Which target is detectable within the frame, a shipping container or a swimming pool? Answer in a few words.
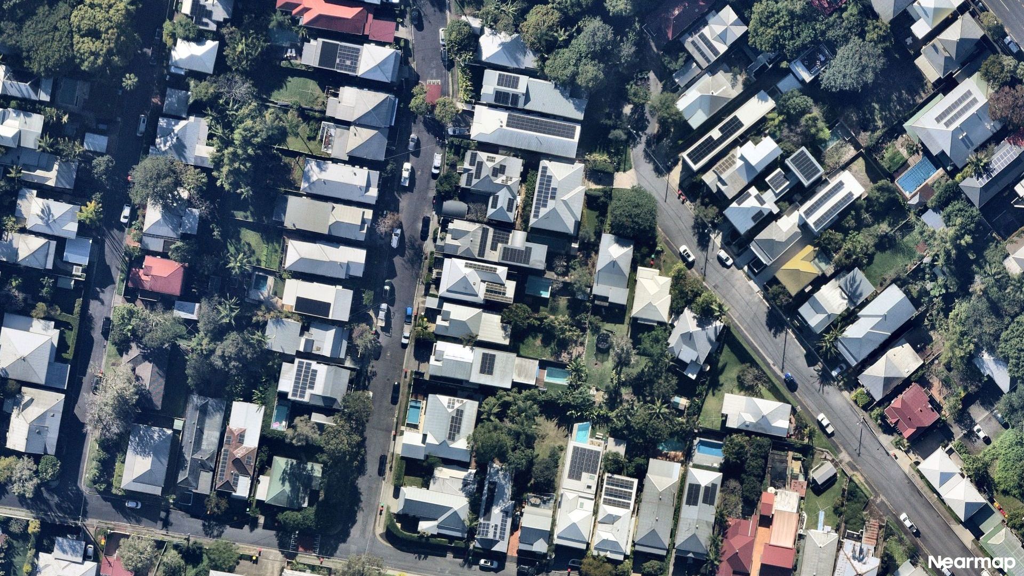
swimming pool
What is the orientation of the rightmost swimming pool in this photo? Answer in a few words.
at an angle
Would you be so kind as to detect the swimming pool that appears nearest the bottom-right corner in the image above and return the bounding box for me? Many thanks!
[695,439,725,458]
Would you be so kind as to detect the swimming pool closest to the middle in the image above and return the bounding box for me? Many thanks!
[524,275,553,298]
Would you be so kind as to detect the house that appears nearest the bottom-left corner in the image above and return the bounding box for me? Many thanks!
[33,537,98,576]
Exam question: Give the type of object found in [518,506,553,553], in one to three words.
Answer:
house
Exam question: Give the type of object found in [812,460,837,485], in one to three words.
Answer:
shed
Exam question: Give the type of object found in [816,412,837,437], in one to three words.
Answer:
truck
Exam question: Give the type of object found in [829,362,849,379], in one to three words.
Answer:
car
